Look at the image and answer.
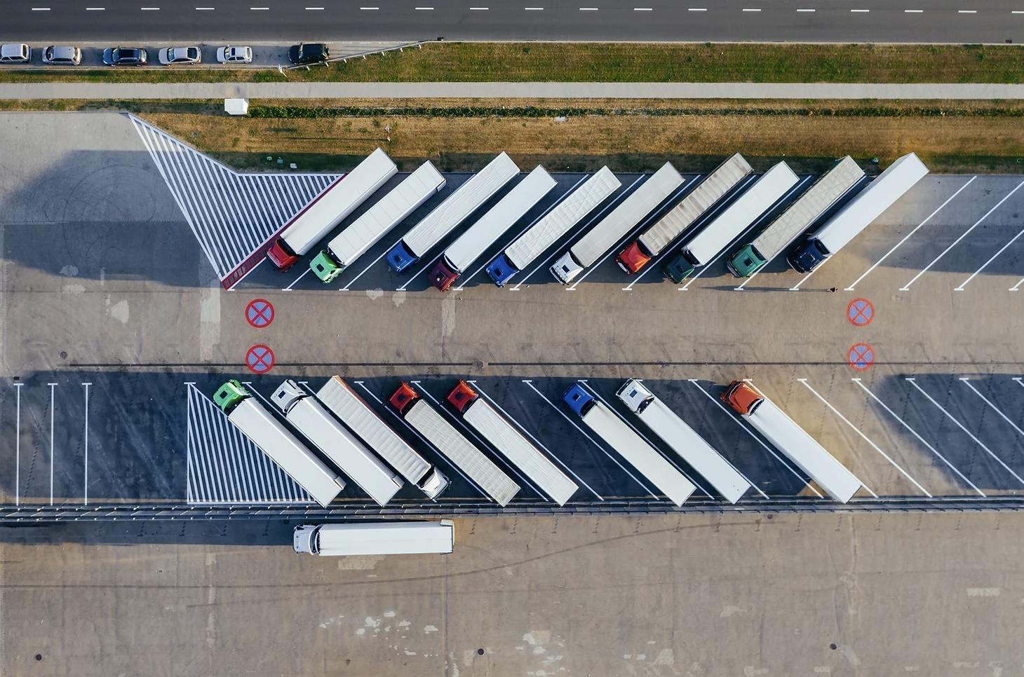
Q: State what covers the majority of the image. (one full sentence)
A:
The bulk of the photo consists of paved ground.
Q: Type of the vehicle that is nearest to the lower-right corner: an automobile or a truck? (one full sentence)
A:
From above, the vehicle that is nearest to the lower-right corner can be identified as a truck.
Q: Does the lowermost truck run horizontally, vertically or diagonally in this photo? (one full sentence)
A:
The lowermost truck has been laid out horizontally relative to the frame.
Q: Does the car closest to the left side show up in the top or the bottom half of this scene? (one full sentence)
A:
The top half of the photo is where the car closest to the left side is.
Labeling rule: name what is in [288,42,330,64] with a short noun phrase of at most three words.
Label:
car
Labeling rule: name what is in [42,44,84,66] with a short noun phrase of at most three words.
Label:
car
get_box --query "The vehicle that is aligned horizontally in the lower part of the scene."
[297,519,455,556]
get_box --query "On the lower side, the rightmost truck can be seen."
[722,379,862,504]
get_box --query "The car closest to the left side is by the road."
[0,43,34,65]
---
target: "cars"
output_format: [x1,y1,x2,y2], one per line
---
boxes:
[288,42,330,64]
[103,46,149,68]
[217,44,254,64]
[159,45,204,66]
[42,44,84,66]
[0,43,34,65]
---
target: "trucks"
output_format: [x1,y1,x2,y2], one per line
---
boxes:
[662,161,800,284]
[264,147,400,273]
[561,381,697,507]
[387,380,521,507]
[550,161,685,287]
[311,160,449,283]
[787,152,930,274]
[617,151,754,275]
[385,151,520,276]
[426,165,557,291]
[617,377,751,504]
[485,165,622,289]
[722,379,862,504]
[297,519,455,556]
[271,379,406,507]
[725,155,865,281]
[317,376,452,500]
[214,381,349,507]
[444,379,579,506]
